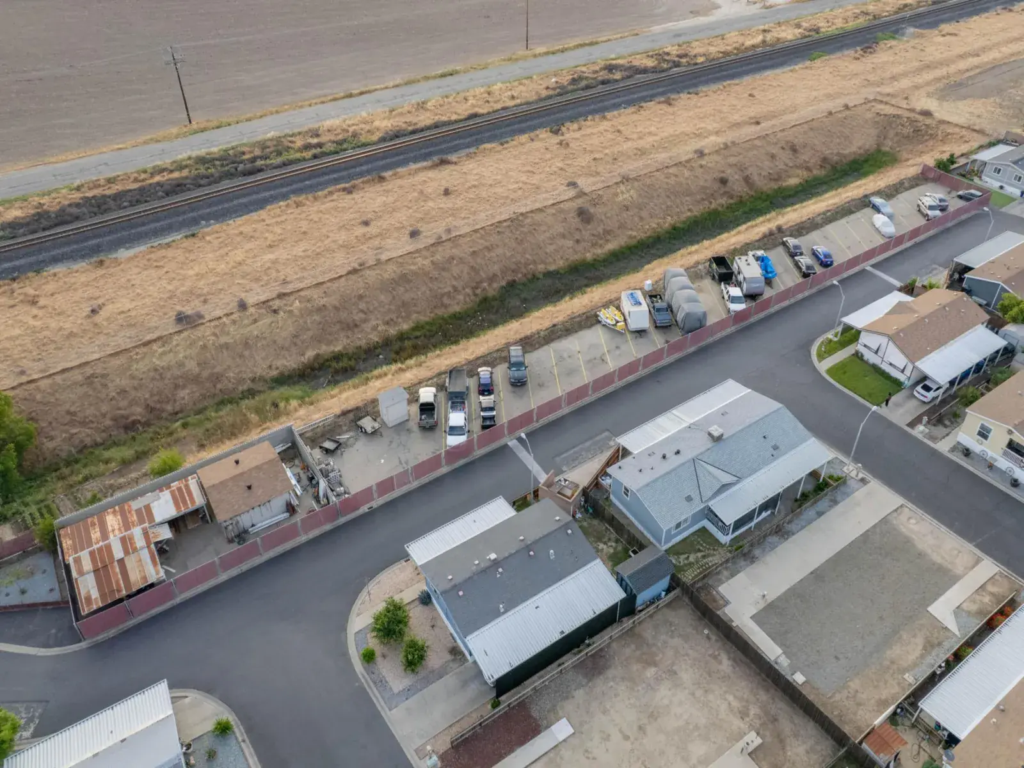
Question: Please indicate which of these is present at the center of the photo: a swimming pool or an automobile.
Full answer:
There is an automobile at the center of the photo.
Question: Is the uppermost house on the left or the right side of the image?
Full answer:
The uppermost house is on the right side of the image.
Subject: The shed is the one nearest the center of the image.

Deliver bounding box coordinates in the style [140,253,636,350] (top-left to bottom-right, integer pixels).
[376,388,410,424]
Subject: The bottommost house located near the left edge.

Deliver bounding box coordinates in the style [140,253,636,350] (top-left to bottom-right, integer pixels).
[0,674,193,768]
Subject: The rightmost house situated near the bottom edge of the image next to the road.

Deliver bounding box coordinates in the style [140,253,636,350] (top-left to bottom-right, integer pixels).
[908,601,1024,768]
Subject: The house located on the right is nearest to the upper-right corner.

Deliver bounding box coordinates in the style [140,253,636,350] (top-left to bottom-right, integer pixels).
[967,143,1024,192]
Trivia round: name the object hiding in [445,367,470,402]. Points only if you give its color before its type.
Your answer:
gray trailer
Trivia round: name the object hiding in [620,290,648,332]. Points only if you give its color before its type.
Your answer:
white trailer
